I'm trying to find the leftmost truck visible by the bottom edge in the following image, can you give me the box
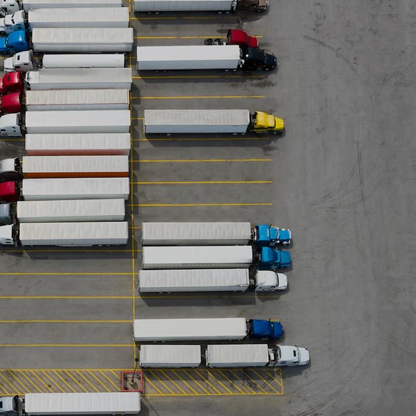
[0,392,141,416]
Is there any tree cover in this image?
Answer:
No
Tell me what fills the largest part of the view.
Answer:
paved ground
